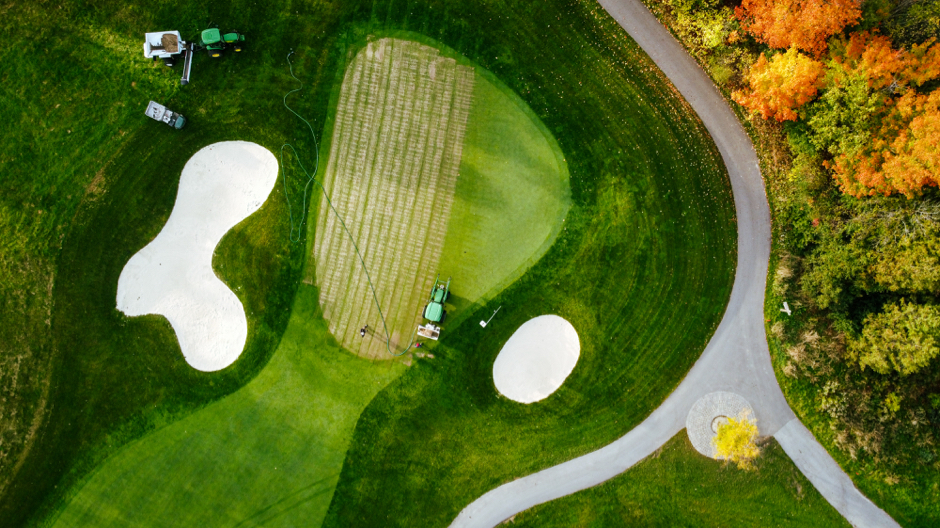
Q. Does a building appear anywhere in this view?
No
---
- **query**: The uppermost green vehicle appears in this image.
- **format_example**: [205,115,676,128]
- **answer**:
[196,26,248,58]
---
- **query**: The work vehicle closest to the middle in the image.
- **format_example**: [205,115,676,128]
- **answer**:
[422,275,452,325]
